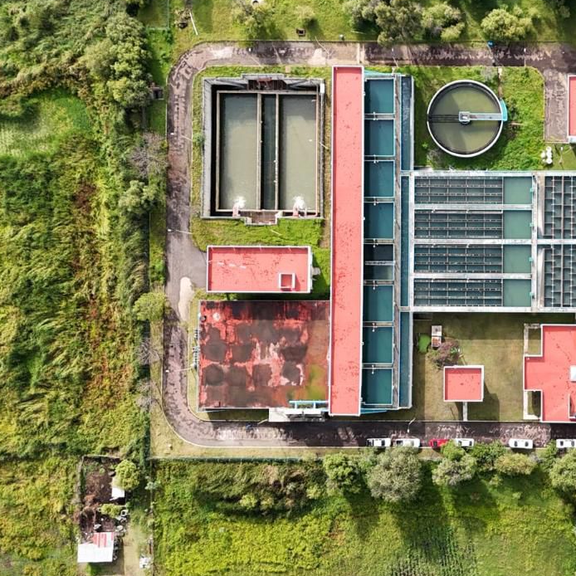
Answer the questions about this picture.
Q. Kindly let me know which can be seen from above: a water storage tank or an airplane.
water storage tank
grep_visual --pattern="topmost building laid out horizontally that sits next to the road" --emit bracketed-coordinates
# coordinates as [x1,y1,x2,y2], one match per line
[208,245,321,293]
